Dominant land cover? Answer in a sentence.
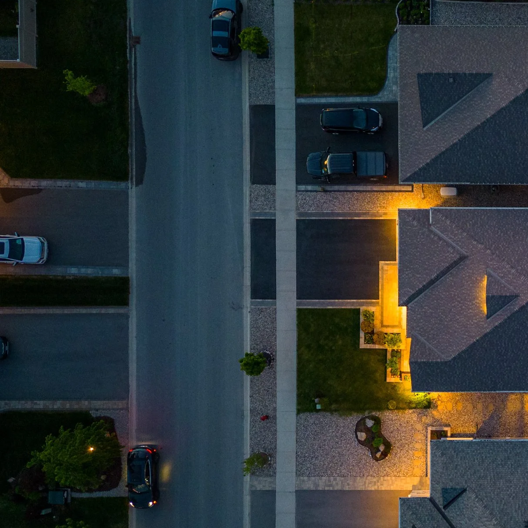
For the most part, this view shows paved ground.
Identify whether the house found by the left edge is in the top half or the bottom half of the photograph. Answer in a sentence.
The top half of the photo is where the house found by the left edge is.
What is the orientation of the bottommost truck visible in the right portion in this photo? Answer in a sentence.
In this picture, the bottommost truck visible in the right portion is oriented horizontally.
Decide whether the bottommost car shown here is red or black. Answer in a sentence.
The bottommost car is black.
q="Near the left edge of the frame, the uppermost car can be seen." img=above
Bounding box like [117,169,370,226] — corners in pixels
[0,234,46,267]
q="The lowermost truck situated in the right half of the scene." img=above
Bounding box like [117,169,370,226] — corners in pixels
[306,146,387,183]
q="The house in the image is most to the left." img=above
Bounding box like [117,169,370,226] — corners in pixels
[0,0,36,70]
